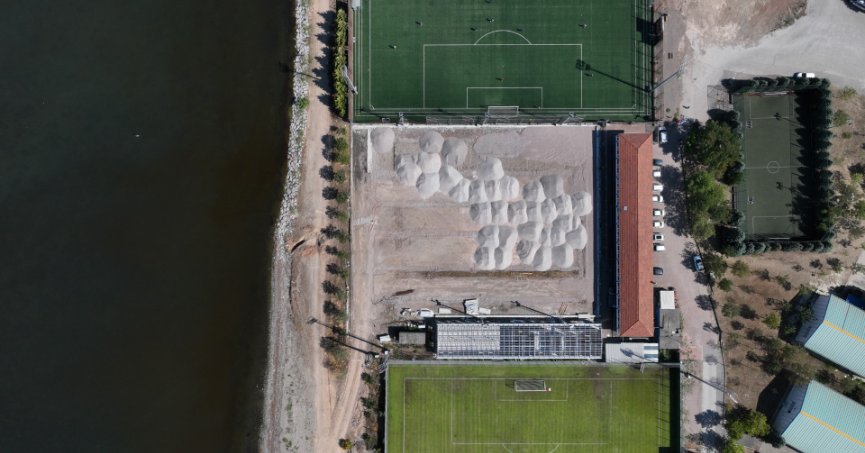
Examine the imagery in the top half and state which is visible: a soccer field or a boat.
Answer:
soccer field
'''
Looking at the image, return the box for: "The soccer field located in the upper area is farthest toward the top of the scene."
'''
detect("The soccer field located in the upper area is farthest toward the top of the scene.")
[353,0,653,124]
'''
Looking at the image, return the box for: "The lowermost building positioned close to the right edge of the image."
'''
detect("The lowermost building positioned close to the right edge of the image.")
[772,377,865,453]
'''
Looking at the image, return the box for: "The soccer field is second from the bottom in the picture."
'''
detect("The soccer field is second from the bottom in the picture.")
[732,94,812,241]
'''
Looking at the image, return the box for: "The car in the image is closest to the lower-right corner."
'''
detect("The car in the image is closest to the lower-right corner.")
[692,254,705,273]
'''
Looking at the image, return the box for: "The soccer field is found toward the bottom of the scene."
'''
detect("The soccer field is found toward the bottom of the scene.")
[389,366,681,453]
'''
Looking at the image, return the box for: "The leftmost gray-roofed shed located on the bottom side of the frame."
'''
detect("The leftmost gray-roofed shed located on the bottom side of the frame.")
[399,331,425,345]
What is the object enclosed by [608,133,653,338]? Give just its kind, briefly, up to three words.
building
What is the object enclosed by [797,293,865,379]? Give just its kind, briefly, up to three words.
building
